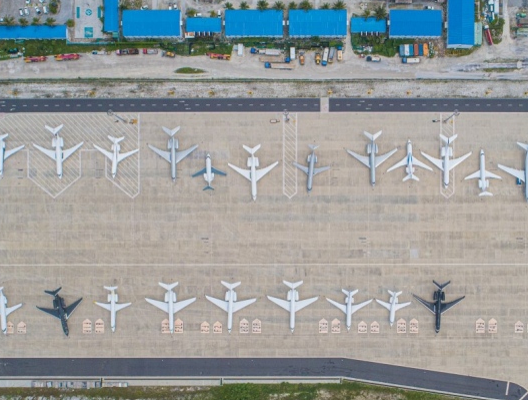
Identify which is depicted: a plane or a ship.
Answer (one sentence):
This aerial view contains a plane.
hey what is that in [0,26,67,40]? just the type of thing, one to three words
shed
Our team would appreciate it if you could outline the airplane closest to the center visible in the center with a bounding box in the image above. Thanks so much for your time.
[227,148,278,200]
